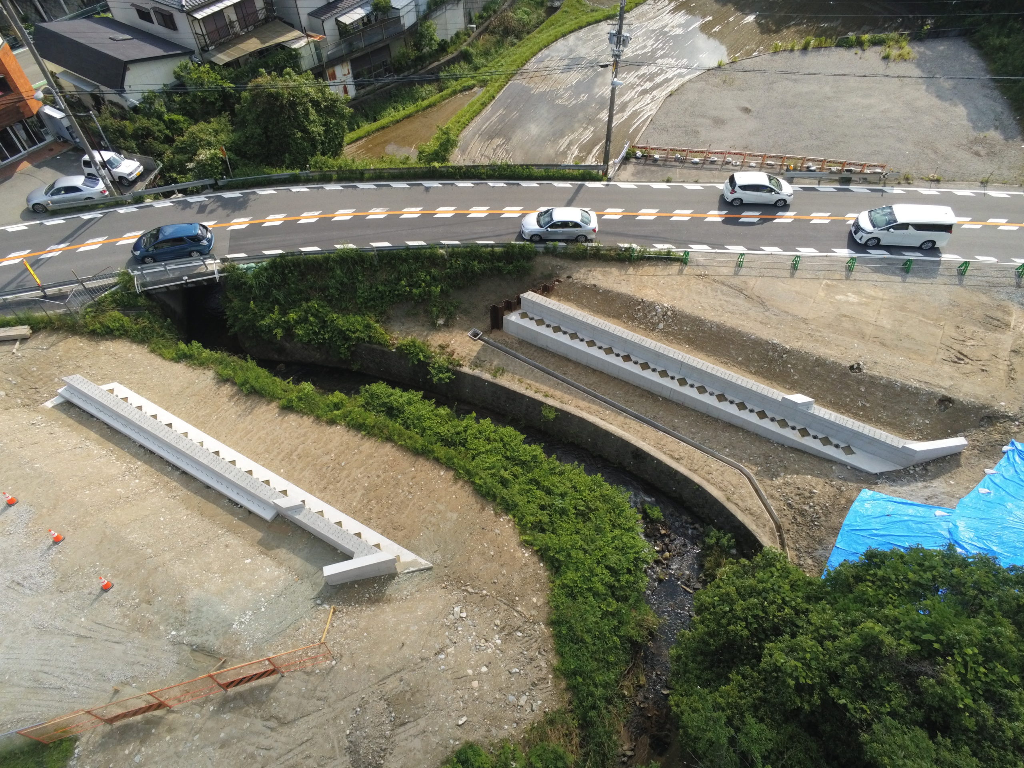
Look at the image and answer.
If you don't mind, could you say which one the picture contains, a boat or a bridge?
bridge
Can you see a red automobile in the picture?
No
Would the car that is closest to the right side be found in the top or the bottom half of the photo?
top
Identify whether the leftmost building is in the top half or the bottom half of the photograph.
top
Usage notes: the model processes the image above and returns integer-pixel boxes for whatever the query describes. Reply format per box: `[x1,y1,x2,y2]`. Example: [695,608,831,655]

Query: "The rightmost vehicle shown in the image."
[851,203,956,250]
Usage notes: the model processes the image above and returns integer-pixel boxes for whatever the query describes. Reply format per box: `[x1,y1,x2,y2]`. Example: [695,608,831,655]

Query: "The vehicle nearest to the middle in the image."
[521,208,599,244]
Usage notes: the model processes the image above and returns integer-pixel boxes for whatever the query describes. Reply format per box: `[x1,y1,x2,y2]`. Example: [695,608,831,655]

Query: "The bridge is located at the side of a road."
[136,262,238,351]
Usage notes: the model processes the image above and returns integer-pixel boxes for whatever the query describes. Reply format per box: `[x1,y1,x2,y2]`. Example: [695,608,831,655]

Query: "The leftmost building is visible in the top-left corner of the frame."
[0,43,55,165]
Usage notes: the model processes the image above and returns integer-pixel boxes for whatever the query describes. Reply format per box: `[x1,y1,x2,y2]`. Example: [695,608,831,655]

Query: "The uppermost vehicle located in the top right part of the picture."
[723,171,797,207]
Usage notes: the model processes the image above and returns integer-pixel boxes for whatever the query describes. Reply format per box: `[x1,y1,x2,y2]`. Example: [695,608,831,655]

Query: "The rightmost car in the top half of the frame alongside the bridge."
[130,223,213,263]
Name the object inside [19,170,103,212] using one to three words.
car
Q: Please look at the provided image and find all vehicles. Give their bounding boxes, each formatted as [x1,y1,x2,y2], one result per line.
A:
[130,223,213,263]
[521,208,599,244]
[851,203,956,250]
[19,170,103,212]
[723,171,797,207]
[81,143,142,185]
